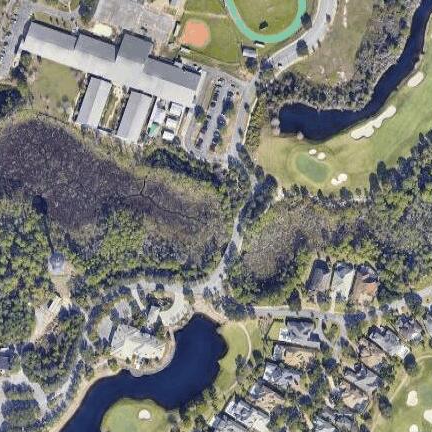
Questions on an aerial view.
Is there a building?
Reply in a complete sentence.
Yes, there's a building down there.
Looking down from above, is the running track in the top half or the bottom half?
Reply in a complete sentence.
Seen from above, the running track lies in the top half of the view.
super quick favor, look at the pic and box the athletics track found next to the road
[225,0,309,44]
